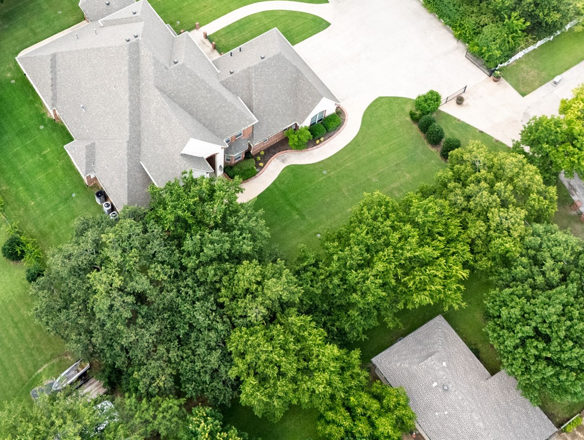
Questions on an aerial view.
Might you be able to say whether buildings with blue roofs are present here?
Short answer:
No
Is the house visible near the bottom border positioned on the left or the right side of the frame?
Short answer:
right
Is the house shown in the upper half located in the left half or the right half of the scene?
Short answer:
left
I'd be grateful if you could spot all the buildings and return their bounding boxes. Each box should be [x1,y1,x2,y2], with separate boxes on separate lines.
[369,314,560,440]
[14,0,342,235]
